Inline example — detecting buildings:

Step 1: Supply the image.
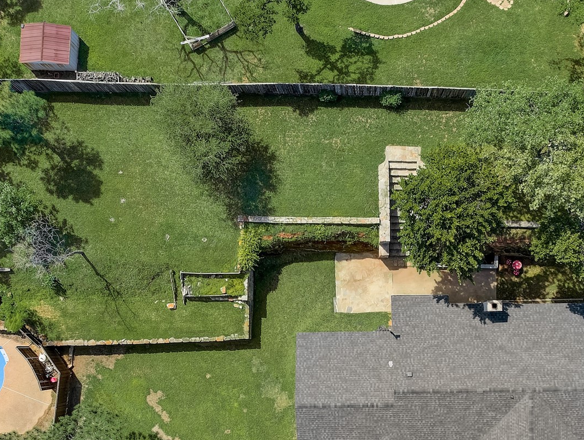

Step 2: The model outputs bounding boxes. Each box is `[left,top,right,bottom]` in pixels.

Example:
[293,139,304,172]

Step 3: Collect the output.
[295,295,584,440]
[20,22,78,73]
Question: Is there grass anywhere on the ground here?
Yes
